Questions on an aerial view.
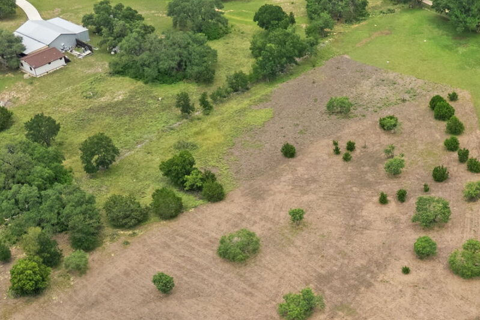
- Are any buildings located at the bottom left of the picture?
No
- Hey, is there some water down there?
No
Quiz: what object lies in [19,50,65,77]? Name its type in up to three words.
shed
